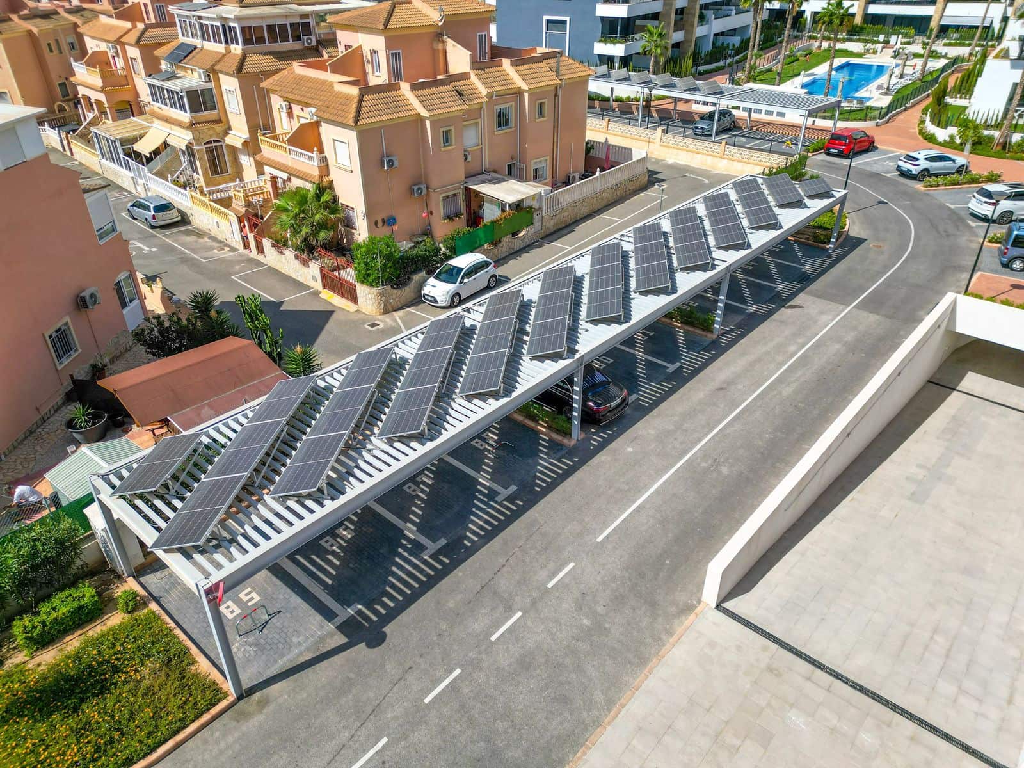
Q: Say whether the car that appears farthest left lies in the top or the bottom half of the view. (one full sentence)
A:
Seen from above, the car that appears farthest left lies in the top half of the view.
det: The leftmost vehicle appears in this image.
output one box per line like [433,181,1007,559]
[121,191,190,228]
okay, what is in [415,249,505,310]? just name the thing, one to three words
car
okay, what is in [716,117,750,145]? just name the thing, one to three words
car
